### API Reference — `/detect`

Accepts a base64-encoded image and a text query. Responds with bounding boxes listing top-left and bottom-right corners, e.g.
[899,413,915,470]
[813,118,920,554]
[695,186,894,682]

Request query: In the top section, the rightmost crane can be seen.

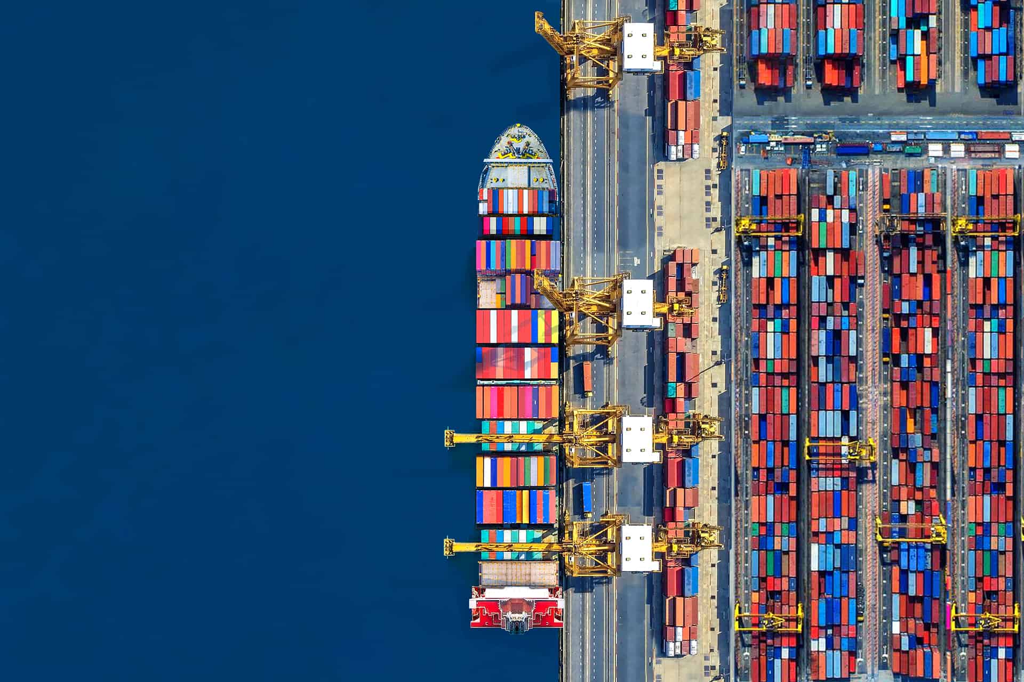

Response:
[942,214,1020,241]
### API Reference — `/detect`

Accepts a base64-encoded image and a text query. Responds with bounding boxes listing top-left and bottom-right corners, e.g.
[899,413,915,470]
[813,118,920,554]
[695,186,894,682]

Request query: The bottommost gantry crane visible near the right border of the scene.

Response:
[942,604,1020,631]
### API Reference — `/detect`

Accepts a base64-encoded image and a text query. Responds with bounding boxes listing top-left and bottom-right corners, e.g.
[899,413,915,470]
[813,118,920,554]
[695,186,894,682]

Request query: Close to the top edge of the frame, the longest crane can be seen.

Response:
[536,10,722,96]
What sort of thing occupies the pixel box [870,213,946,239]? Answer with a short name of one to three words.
container crane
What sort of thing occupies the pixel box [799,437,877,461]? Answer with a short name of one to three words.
container crane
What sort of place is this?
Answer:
port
